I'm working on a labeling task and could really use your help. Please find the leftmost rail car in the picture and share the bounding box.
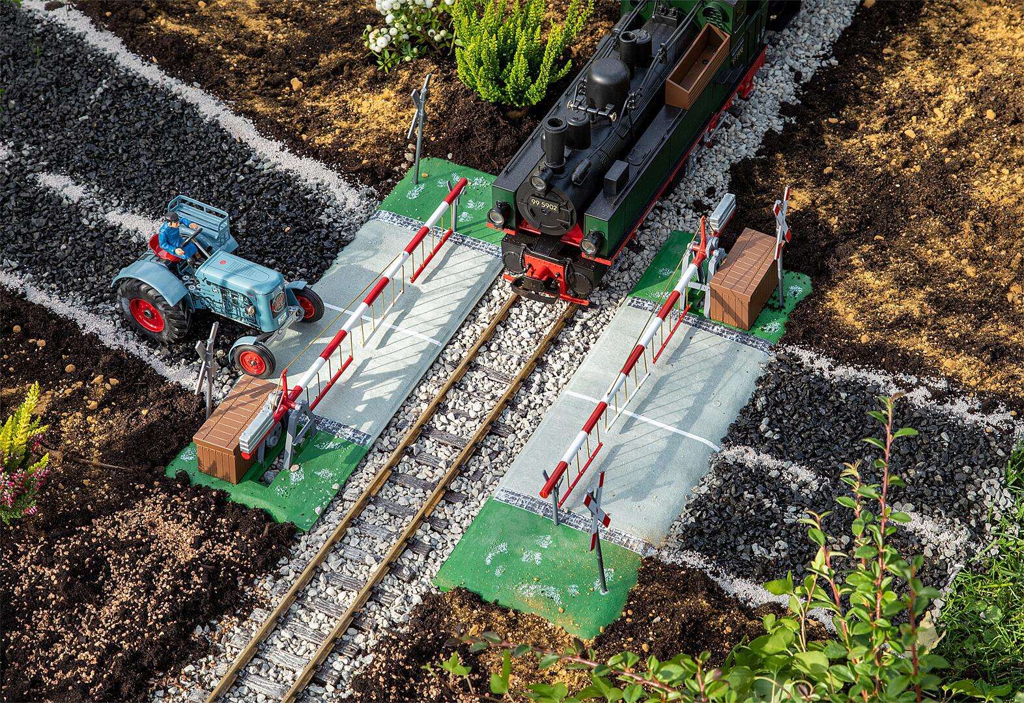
[486,0,768,312]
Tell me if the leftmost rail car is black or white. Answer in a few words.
black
